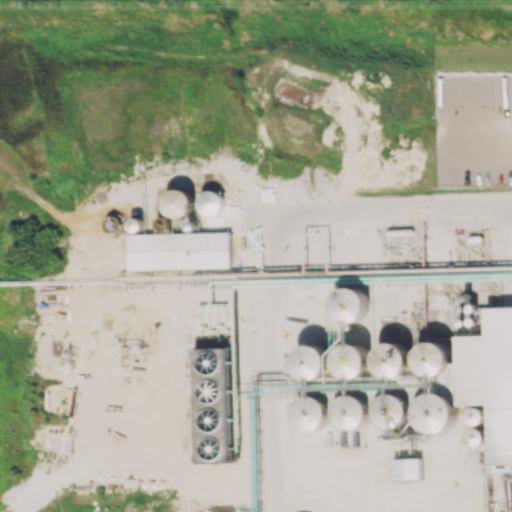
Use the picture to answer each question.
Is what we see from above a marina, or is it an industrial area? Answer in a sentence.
This looks like an industrial area.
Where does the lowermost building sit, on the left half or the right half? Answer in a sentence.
It is on the right.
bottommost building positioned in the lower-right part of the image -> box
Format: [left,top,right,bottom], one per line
[390,458,423,482]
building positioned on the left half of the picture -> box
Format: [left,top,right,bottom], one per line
[126,234,232,272]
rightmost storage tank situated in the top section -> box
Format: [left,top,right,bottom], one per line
[196,190,227,218]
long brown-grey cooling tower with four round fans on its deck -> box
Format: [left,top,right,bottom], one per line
[190,349,235,464]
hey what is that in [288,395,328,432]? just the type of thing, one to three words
storage tank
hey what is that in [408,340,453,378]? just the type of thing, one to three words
storage tank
